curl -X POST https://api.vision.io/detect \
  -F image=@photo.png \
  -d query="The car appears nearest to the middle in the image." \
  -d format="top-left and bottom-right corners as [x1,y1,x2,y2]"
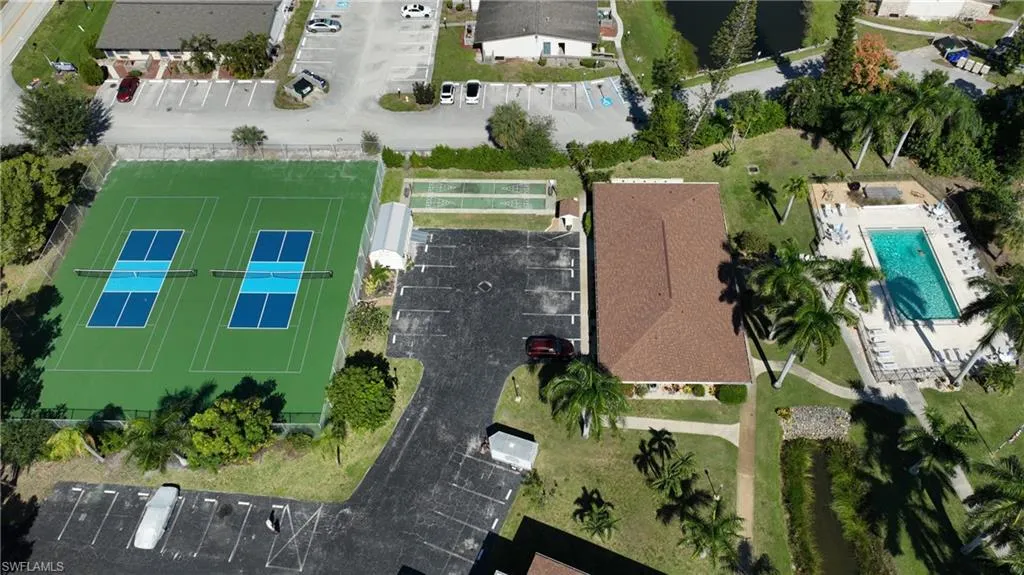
[526,335,575,361]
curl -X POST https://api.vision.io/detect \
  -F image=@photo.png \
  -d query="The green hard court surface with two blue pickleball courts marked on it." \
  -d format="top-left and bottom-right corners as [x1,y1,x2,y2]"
[1,160,379,450]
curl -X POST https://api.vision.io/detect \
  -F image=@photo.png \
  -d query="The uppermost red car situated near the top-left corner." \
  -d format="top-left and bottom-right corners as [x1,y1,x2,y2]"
[116,75,137,100]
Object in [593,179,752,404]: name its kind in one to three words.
building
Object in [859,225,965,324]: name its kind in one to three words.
swimming pool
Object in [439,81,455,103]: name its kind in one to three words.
car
